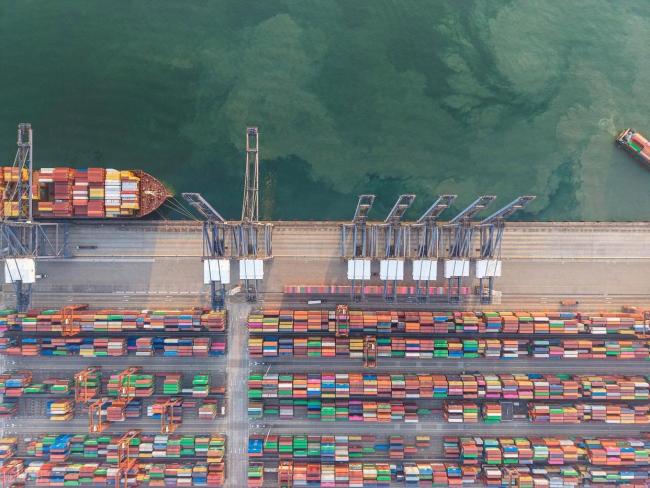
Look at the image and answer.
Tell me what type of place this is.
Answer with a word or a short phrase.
port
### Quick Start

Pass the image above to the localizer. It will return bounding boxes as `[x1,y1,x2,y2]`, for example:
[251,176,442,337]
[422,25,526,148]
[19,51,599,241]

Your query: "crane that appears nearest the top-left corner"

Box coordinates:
[0,126,72,302]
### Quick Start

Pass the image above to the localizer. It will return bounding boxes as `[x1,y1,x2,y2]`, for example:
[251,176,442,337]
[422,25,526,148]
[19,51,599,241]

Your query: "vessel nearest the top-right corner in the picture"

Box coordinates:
[615,129,650,169]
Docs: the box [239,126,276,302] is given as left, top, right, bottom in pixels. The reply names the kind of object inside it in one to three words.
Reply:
container crane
